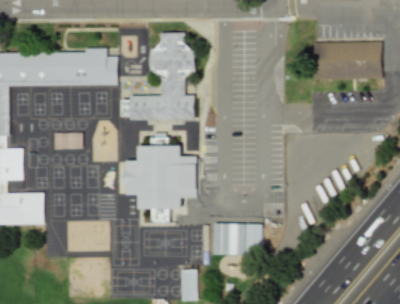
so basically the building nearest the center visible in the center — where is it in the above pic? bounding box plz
[125,146,198,208]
